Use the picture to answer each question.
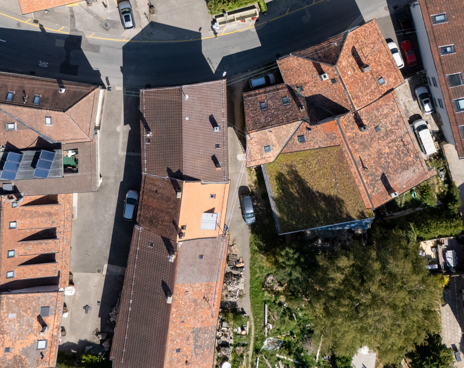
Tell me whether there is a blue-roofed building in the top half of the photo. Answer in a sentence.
No, there's no blue-roofed building to be seen in the top half of the photo.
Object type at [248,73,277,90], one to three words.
car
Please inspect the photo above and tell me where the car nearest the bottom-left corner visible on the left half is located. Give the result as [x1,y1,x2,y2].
[122,188,140,223]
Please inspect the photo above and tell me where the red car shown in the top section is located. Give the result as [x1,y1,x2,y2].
[400,41,420,74]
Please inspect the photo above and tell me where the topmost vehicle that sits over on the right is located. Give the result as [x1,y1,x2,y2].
[392,3,409,34]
